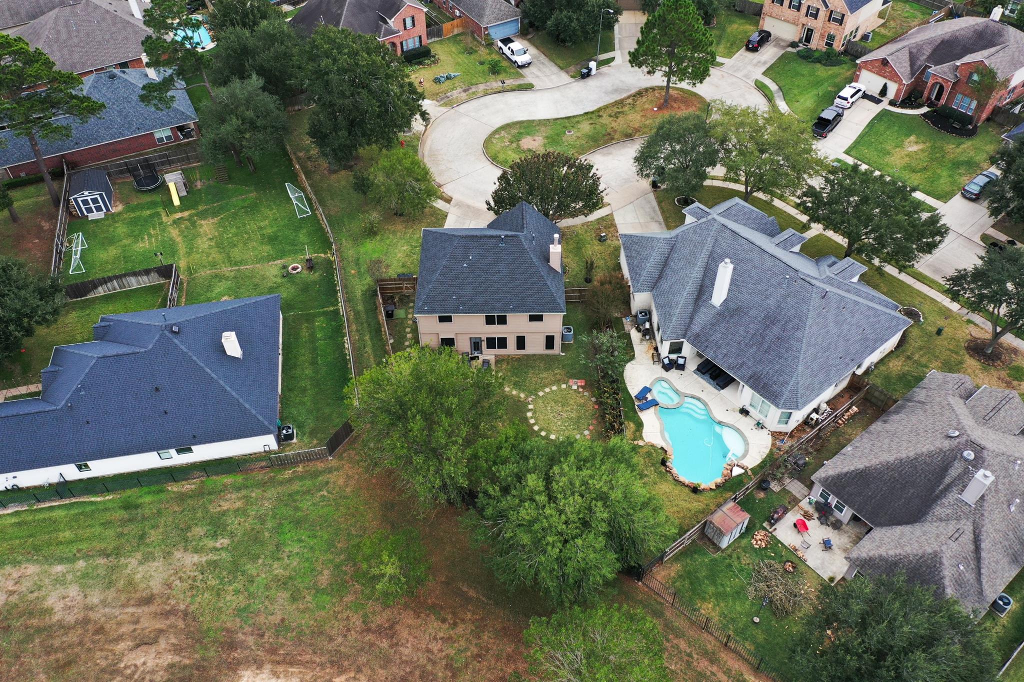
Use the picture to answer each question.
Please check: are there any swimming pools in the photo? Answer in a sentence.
Yes, I can see a swimming pool in this picture.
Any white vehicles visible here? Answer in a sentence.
Yes, there's a white vehicle down there.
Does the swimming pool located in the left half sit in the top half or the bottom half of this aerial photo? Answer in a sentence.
The swimming pool located in the left half sits in the top half of the picture.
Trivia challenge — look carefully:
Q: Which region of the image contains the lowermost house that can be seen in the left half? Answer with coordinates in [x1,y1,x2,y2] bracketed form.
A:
[0,294,281,495]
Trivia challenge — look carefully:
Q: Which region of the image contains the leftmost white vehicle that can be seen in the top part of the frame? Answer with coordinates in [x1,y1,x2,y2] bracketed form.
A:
[495,35,535,68]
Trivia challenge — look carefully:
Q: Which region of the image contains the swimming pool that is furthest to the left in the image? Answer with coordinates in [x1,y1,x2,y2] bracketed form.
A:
[172,16,214,47]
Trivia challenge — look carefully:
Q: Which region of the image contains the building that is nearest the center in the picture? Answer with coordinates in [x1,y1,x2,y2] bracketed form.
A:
[413,201,567,357]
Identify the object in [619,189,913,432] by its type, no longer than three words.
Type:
house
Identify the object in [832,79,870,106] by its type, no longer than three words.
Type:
car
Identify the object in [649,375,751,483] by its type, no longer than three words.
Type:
swimming pool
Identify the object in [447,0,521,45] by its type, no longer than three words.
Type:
house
